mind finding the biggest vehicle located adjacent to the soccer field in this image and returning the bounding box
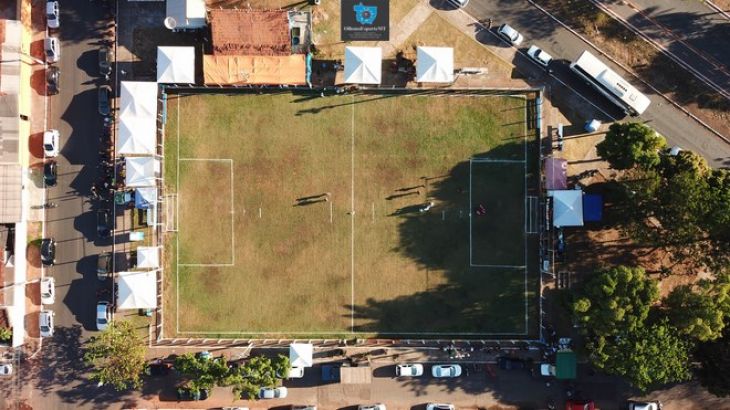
[570,51,657,119]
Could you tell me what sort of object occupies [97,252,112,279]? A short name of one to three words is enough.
car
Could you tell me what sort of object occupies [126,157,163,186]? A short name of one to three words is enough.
tent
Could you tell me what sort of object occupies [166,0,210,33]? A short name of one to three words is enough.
building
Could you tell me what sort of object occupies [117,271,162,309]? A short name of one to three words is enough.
tent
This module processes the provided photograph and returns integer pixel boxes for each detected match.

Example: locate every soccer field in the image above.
[158,86,541,341]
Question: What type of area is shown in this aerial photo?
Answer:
sports ground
